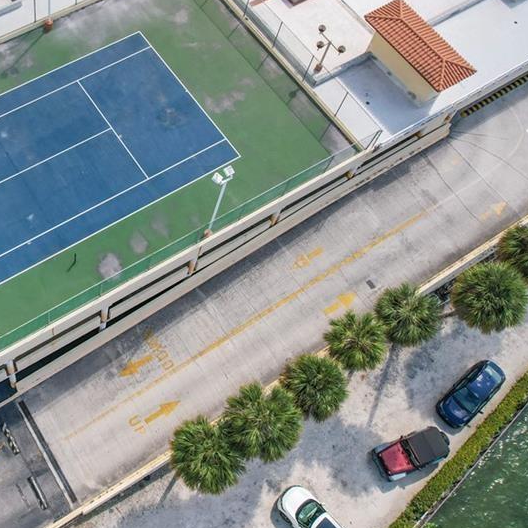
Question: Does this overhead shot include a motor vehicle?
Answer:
Yes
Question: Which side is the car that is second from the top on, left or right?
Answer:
right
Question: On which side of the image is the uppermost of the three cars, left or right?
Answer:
right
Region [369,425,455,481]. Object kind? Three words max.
car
